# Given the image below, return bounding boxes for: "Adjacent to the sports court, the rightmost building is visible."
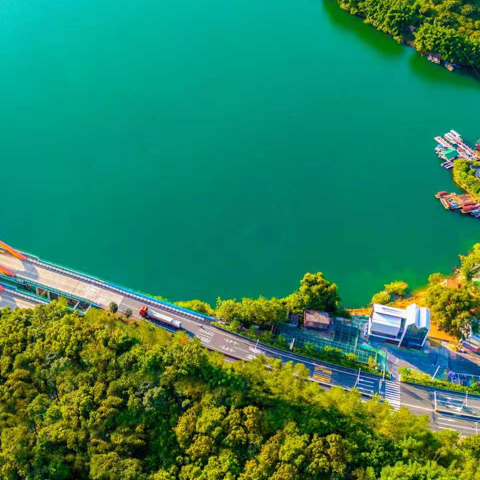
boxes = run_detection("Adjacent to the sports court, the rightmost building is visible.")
[358,300,434,353]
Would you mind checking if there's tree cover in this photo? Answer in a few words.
Yes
